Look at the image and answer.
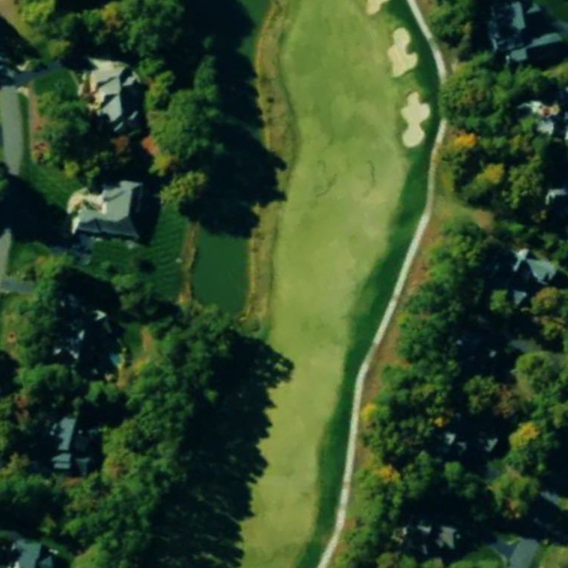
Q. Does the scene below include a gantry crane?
No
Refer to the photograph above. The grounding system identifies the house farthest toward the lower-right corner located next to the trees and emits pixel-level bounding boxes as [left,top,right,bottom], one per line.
[411,519,457,554]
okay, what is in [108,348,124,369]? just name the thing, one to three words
swimming pool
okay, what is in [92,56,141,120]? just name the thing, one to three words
house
